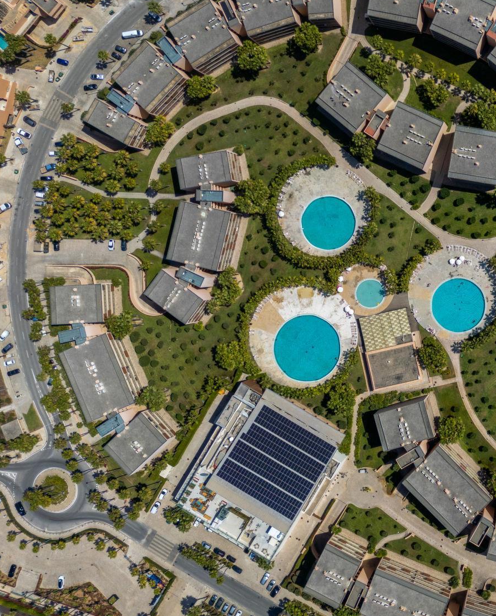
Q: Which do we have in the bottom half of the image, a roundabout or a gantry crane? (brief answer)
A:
roundabout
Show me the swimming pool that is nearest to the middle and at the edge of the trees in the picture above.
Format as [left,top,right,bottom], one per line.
[249,286,357,387]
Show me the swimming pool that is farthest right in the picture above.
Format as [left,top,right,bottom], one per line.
[408,246,496,341]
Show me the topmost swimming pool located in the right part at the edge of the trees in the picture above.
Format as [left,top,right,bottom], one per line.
[275,164,372,256]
